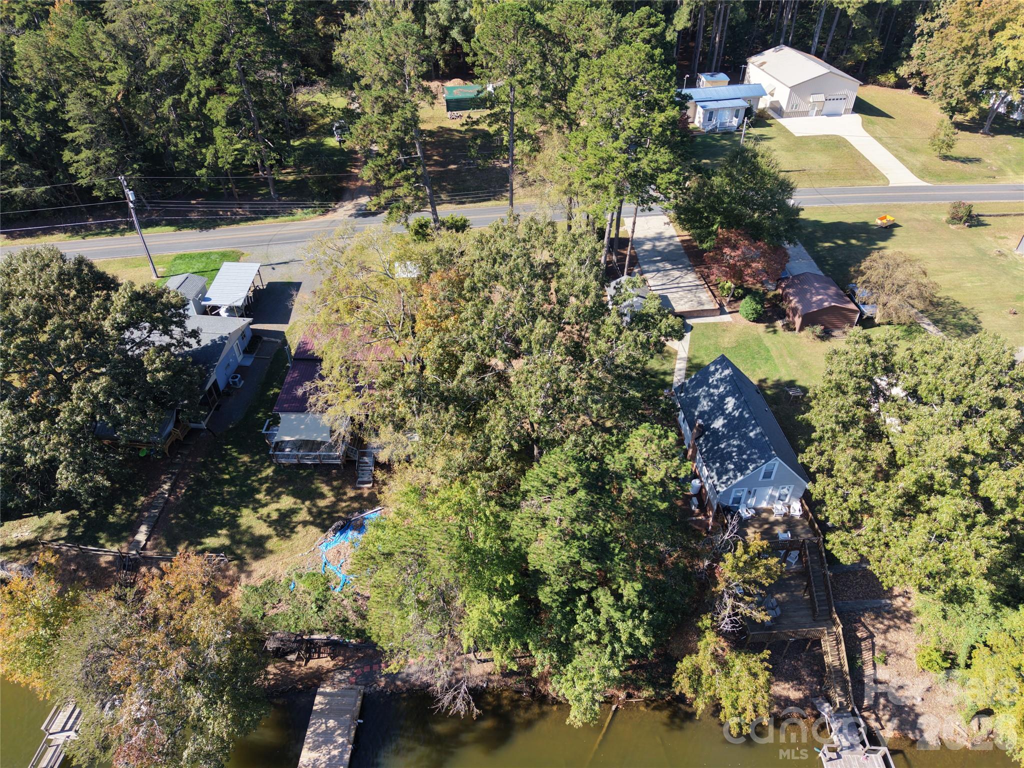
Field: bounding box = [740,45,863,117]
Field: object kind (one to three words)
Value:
building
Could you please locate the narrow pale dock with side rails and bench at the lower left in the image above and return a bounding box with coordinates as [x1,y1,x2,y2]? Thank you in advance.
[26,669,112,768]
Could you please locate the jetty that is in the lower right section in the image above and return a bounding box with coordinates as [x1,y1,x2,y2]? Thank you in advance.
[802,682,909,768]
